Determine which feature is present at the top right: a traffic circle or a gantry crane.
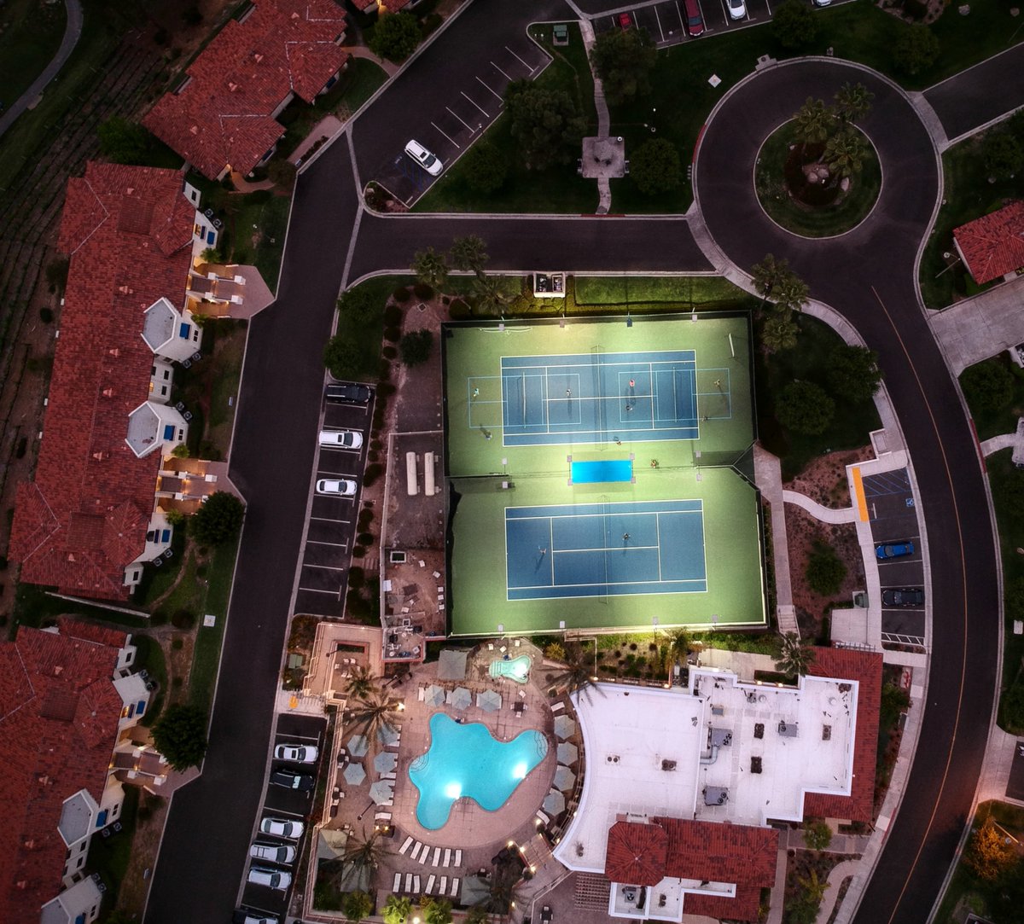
traffic circle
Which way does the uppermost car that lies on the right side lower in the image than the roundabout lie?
horizontally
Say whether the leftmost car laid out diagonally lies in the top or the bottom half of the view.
top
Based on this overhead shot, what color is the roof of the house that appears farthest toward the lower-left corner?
red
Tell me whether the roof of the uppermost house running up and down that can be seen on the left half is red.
Yes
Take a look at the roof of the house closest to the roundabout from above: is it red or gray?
red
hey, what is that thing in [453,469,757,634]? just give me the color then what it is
green tennis court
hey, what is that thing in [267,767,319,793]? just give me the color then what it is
black truck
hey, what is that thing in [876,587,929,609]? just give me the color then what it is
black truck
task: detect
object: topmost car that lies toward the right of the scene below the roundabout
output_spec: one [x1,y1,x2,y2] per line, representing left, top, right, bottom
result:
[874,541,915,561]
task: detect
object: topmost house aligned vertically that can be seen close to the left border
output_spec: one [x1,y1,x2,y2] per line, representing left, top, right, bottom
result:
[7,161,214,601]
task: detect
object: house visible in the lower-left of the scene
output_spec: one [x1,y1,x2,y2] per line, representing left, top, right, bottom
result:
[0,617,149,924]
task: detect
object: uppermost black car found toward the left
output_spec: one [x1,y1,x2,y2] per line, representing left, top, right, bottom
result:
[328,383,369,402]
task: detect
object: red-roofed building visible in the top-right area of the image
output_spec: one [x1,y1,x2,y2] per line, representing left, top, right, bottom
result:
[951,202,1024,285]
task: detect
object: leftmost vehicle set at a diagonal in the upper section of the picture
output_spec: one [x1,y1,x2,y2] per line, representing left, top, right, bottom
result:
[404,139,441,175]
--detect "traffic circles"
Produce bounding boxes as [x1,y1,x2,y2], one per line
[696,59,939,299]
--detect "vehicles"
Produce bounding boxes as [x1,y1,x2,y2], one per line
[876,587,929,609]
[249,840,297,867]
[328,383,369,402]
[404,139,441,175]
[874,541,915,561]
[262,816,304,840]
[723,0,746,25]
[320,430,361,450]
[317,478,357,497]
[615,4,637,38]
[247,864,292,890]
[236,907,280,924]
[276,742,317,764]
[267,767,319,793]
[682,0,706,36]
